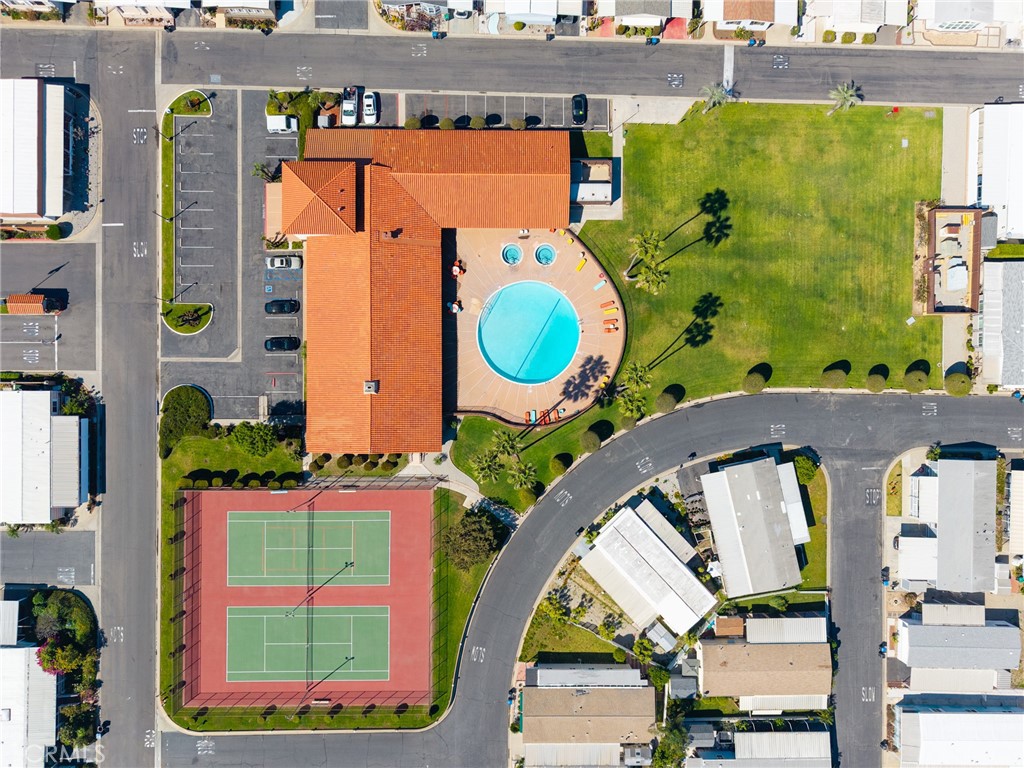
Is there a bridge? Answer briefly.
No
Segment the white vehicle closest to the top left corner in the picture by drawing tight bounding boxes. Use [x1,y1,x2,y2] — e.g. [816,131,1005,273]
[262,113,298,131]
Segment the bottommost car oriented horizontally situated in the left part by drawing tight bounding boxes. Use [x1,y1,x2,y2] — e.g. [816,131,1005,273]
[264,336,298,351]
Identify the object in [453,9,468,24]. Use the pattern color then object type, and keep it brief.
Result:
white car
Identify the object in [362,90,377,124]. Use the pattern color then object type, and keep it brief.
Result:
white car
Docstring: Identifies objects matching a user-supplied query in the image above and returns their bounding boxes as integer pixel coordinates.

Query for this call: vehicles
[264,298,298,314]
[892,537,898,551]
[453,9,468,24]
[561,15,574,28]
[262,113,298,131]
[264,336,298,351]
[265,254,300,269]
[362,90,377,124]
[340,84,357,125]
[573,92,588,125]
